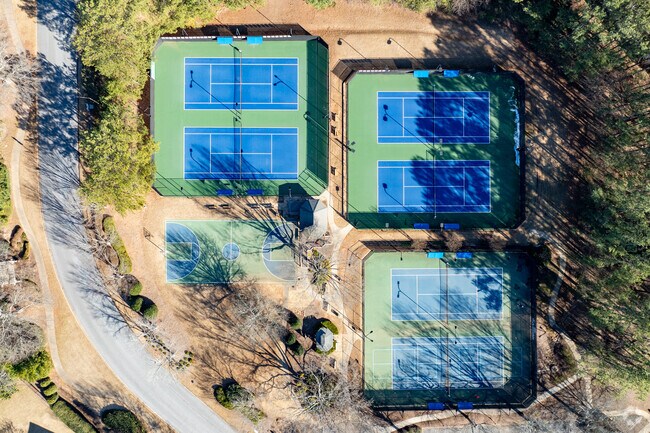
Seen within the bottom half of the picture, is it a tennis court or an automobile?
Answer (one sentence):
What appears within the bottom half of the picture is a tennis court.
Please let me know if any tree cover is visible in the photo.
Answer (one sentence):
Yes, tree cover shows up in the scene.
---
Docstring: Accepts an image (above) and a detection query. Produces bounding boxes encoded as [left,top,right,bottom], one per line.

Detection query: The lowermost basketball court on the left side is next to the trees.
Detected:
[166,220,296,283]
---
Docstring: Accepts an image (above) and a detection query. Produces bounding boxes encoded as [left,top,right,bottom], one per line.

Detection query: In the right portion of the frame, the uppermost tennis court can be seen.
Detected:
[347,72,520,152]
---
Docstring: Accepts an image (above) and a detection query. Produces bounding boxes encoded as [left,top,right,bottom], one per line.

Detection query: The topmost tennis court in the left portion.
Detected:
[154,41,328,118]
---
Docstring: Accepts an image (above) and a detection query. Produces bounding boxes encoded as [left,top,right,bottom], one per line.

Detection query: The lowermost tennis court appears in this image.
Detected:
[365,329,531,403]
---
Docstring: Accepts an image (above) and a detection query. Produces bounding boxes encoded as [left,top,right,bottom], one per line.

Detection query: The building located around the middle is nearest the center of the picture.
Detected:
[300,200,327,239]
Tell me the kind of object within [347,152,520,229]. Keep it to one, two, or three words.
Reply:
tennis court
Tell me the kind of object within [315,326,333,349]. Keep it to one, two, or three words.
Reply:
gazebo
